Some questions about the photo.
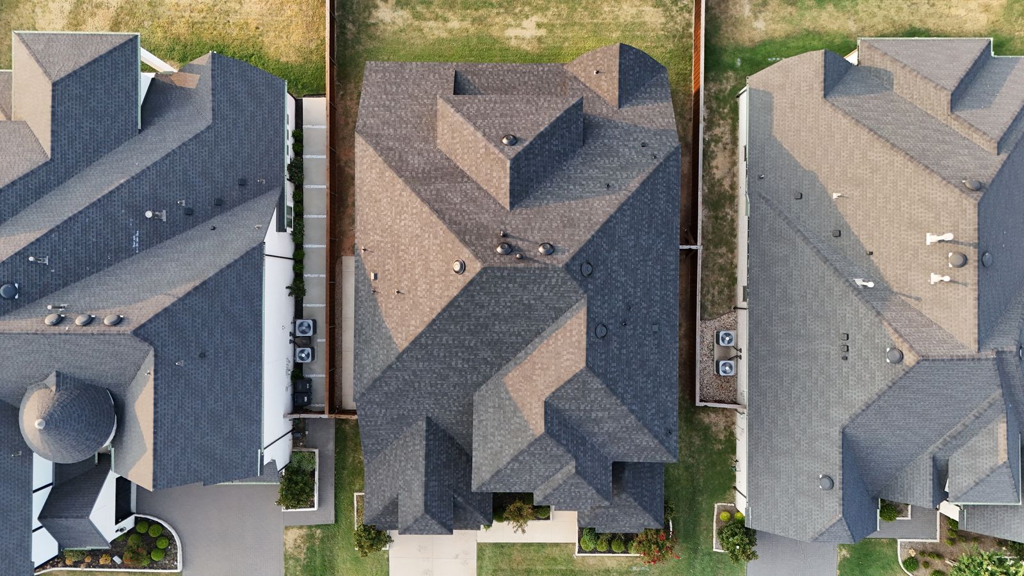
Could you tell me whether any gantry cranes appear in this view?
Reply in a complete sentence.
No, I can't see a single gantry crane in this photo.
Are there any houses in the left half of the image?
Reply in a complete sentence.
Yes, a house can be seen in the left half of the image.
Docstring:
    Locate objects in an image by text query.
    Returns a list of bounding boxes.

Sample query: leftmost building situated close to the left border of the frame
[0,31,301,576]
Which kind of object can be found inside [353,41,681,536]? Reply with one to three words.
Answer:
house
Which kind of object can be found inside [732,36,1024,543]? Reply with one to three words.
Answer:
house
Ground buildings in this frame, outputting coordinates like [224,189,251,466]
[353,41,681,536]
[732,36,1024,543]
[0,31,301,576]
